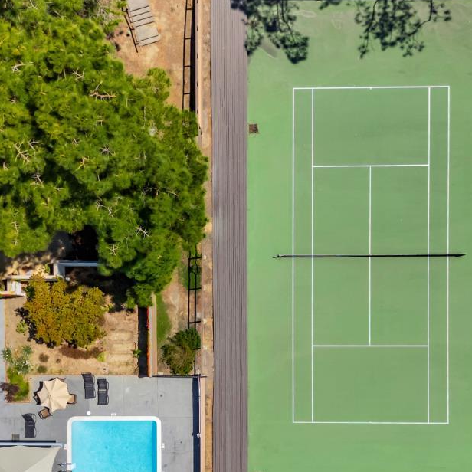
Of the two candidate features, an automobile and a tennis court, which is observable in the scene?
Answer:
tennis court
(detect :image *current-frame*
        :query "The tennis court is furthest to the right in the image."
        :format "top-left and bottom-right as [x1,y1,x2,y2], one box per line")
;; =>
[293,85,450,425]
